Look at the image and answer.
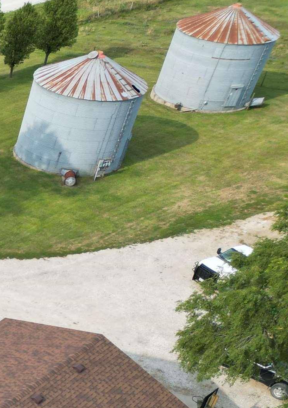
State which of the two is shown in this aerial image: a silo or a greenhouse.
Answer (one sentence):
This aerial view contains a silo.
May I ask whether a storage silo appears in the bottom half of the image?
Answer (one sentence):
No, in the bottom half of the image there is no storage silo.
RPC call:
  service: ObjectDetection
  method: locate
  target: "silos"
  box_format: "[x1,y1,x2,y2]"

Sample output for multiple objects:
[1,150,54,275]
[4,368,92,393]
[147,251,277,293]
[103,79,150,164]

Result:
[150,1,282,115]
[12,51,149,178]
